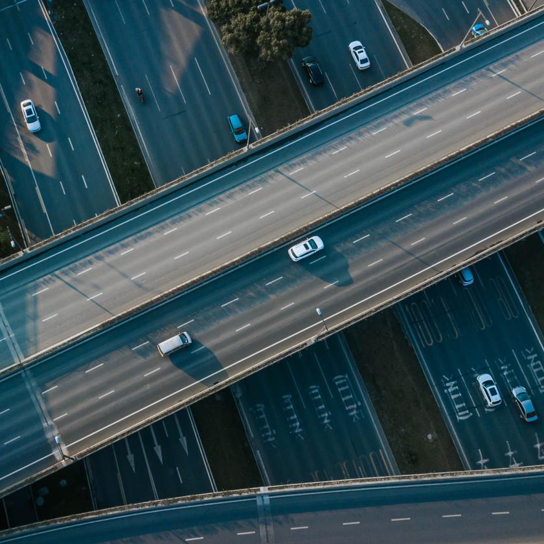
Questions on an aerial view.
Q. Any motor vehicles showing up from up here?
Yes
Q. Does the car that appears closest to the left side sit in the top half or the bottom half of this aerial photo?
top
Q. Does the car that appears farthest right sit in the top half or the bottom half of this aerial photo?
bottom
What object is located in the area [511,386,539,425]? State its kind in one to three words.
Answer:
car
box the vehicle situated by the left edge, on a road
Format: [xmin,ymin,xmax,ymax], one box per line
[21,99,42,131]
